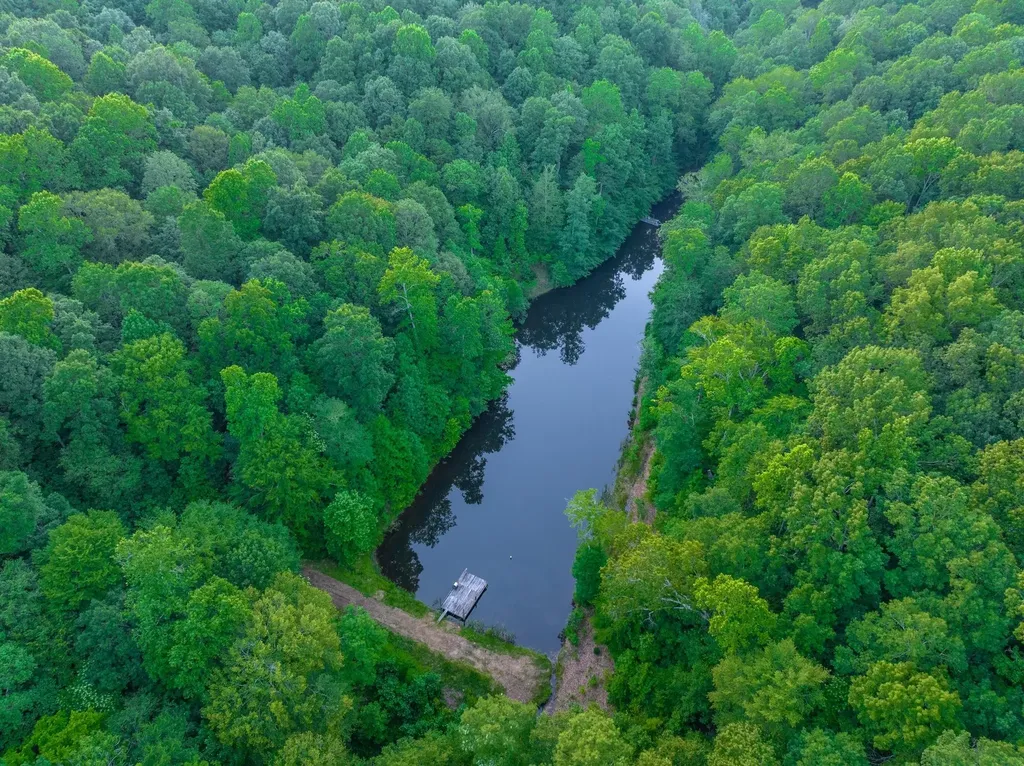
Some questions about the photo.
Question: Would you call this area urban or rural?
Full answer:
From above, the setting appears rural.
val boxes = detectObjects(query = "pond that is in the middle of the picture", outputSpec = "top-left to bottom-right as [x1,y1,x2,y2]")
[378,154,711,660]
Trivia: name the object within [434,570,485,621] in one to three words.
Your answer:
pier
